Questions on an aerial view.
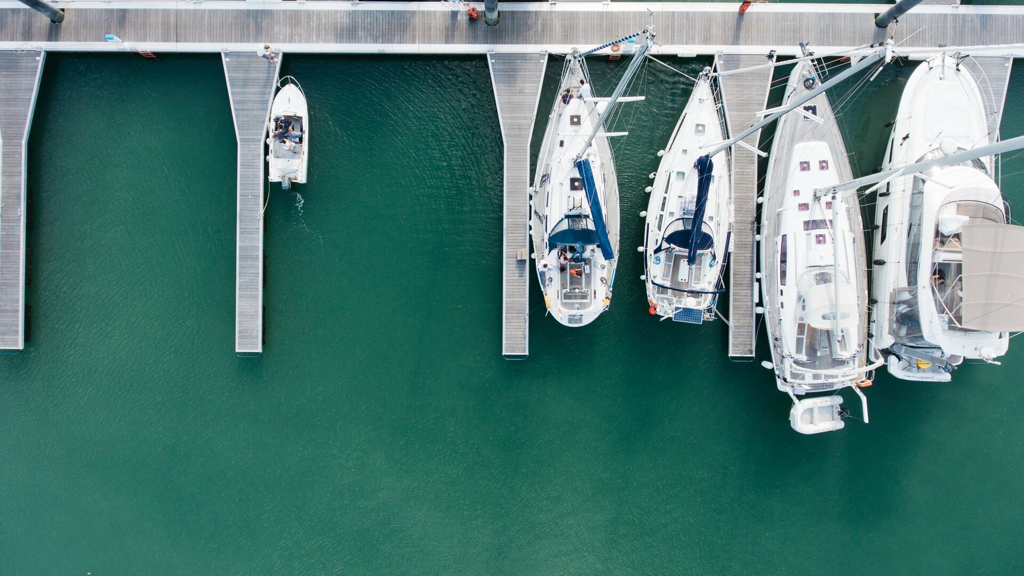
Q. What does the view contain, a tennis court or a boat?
boat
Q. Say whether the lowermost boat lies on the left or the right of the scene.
right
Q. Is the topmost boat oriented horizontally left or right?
right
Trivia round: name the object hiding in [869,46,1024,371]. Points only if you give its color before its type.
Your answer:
white boat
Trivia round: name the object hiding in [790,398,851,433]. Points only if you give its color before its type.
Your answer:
white boat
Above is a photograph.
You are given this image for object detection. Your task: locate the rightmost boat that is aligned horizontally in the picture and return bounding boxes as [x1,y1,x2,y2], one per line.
[887,351,962,382]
